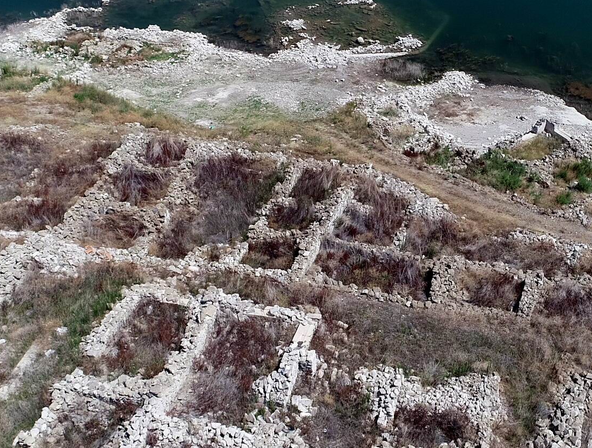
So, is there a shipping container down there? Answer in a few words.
No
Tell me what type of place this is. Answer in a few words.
residential area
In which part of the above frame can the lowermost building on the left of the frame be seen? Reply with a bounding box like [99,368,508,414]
[10,284,328,448]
